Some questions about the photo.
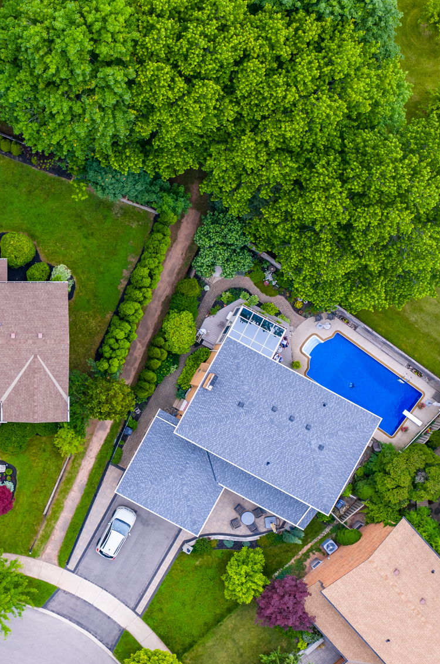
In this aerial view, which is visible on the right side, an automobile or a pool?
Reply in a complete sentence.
Looking on the right side, you will find a pool.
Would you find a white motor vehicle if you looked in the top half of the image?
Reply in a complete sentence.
No, looking in the top half of the image, there is no white motor vehicle.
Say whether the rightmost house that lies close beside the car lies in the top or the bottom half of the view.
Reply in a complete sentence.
It is in the bottom half that the rightmost house that lies close beside the car appears.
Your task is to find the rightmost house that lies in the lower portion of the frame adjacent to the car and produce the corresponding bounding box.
[114,335,384,538]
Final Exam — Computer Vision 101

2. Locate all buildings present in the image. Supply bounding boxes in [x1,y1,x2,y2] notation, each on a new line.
[114,335,384,538]
[303,514,440,664]
[0,259,70,423]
